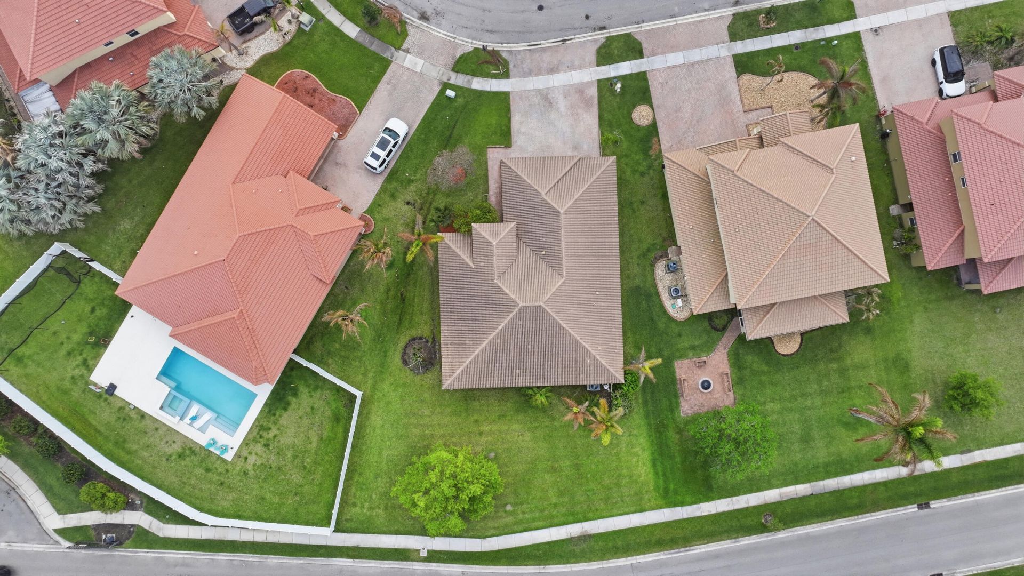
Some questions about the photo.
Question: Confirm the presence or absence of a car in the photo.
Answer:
Yes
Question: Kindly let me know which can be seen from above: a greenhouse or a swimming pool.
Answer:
swimming pool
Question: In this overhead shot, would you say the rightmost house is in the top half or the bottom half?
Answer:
top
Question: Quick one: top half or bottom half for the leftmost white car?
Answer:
top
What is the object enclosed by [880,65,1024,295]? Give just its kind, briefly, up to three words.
house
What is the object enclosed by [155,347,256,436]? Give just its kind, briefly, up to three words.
swimming pool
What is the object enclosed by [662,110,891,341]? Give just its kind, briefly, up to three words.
house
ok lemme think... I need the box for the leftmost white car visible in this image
[364,118,407,175]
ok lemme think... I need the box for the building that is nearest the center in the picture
[436,155,624,390]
